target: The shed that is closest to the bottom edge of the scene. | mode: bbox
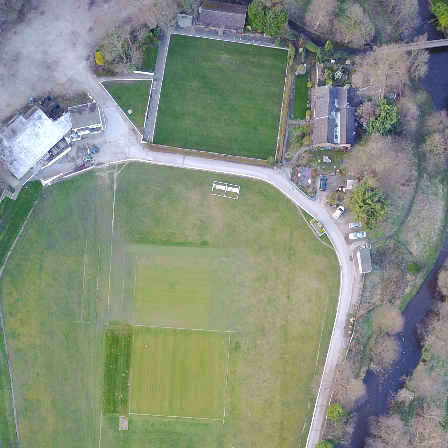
[353,248,372,274]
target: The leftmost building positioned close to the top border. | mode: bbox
[200,0,248,41]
